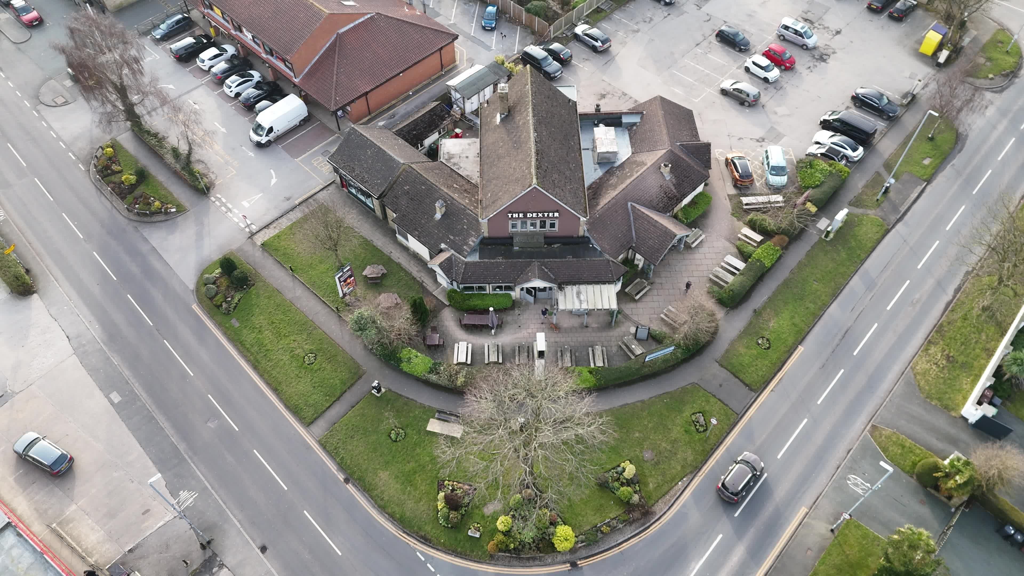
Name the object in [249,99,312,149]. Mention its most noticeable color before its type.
white van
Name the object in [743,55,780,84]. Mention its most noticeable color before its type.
white car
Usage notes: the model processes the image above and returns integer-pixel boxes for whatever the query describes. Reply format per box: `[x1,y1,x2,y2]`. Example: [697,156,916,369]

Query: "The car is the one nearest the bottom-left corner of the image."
[8,433,75,481]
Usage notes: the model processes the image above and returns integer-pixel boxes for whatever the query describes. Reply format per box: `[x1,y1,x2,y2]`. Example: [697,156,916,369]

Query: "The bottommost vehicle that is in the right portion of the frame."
[718,451,768,507]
